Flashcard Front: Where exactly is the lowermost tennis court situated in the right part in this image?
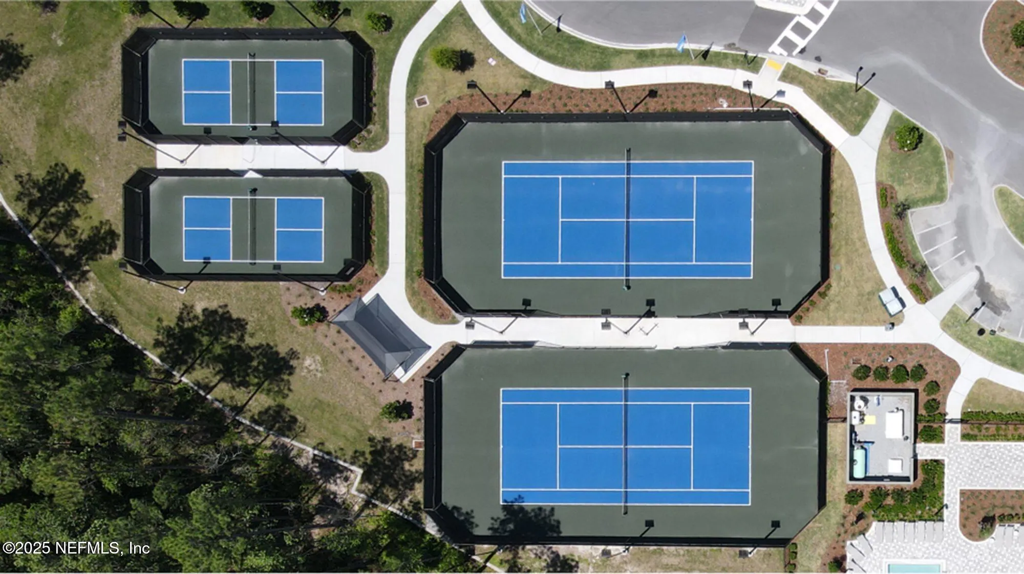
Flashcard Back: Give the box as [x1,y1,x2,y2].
[434,349,819,545]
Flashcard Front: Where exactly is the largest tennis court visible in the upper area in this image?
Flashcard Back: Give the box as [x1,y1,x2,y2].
[434,121,822,317]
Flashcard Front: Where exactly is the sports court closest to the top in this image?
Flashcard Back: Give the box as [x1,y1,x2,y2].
[141,39,352,143]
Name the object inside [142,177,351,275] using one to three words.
sports court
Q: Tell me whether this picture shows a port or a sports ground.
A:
sports ground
